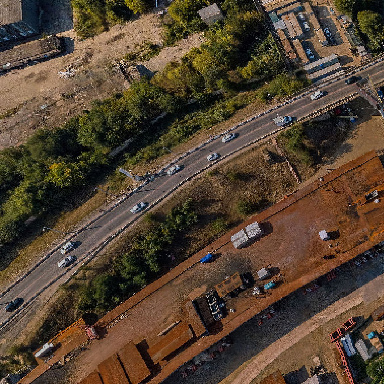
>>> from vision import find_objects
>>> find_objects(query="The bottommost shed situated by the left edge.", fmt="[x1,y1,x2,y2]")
[0,34,65,78]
